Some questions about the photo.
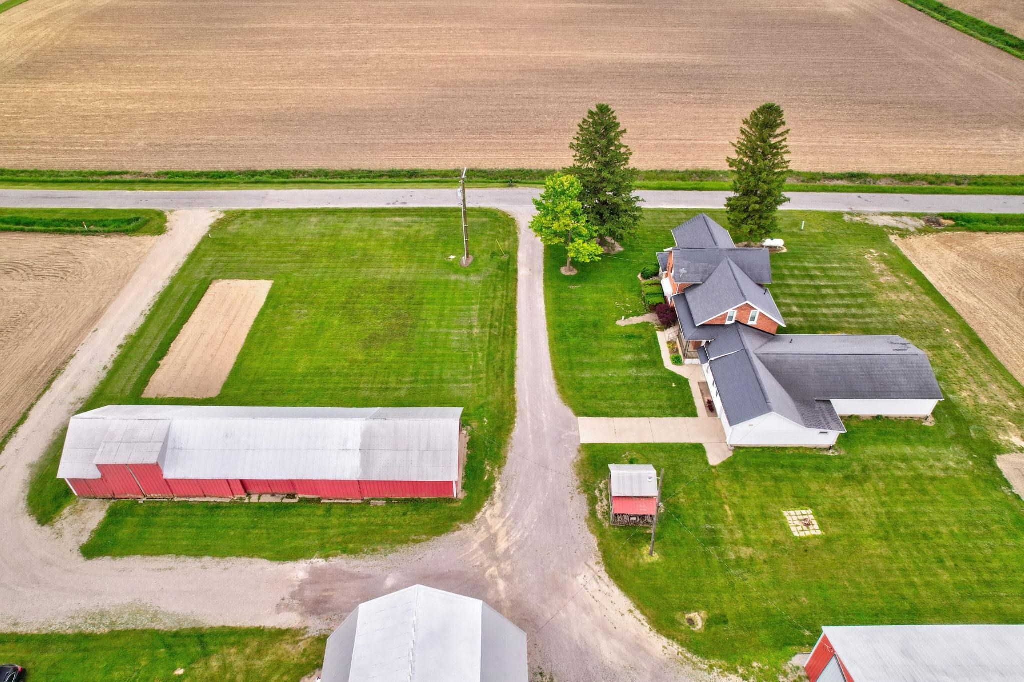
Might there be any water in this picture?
No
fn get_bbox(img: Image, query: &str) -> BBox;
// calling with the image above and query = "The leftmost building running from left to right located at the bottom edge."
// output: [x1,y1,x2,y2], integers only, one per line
[319,585,529,682]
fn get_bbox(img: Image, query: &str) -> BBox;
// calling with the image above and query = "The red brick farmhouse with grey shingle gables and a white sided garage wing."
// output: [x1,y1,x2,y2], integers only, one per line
[655,214,944,453]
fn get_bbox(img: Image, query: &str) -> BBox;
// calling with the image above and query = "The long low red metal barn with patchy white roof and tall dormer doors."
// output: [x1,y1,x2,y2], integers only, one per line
[54,405,465,500]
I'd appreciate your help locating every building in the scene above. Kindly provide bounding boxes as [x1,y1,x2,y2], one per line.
[606,464,658,527]
[54,405,465,500]
[655,214,944,453]
[805,627,1024,682]
[319,585,529,682]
